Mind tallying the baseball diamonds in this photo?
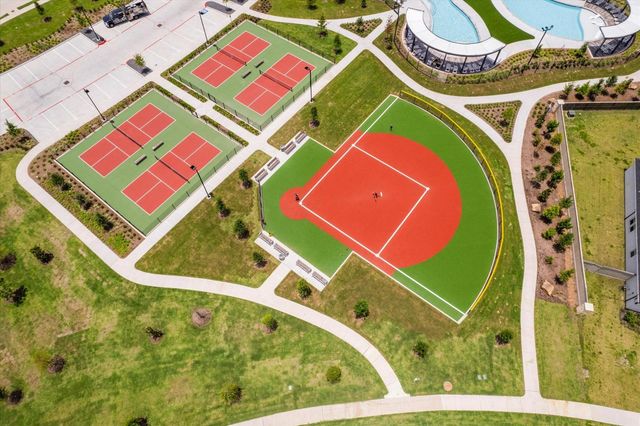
1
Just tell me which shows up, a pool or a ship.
pool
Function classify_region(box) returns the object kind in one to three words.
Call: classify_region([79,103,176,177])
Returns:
sports court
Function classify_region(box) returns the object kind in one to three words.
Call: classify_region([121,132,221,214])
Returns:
sports court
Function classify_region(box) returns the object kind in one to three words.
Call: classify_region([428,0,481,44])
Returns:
swimming pool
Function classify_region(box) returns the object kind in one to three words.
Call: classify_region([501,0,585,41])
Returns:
swimming pool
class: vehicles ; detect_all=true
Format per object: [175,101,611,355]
[99,0,147,27]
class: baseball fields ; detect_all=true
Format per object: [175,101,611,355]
[262,94,499,324]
